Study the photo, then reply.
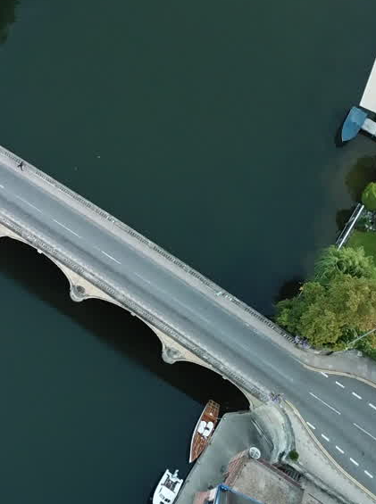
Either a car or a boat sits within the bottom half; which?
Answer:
boat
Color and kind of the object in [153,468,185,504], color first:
white boat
